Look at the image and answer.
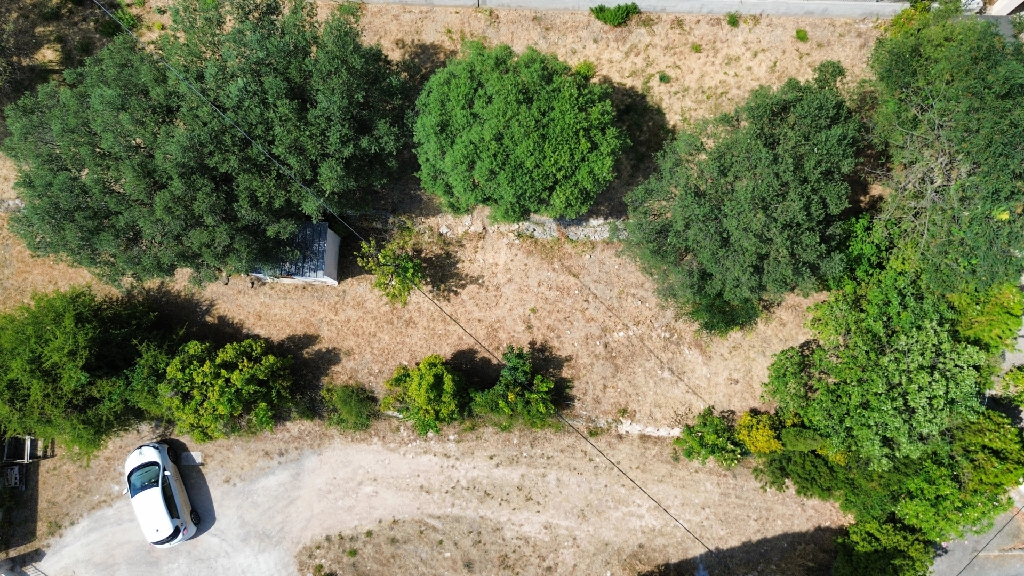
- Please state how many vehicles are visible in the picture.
one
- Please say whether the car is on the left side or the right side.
left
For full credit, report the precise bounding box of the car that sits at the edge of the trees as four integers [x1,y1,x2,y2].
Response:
[121,441,201,552]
